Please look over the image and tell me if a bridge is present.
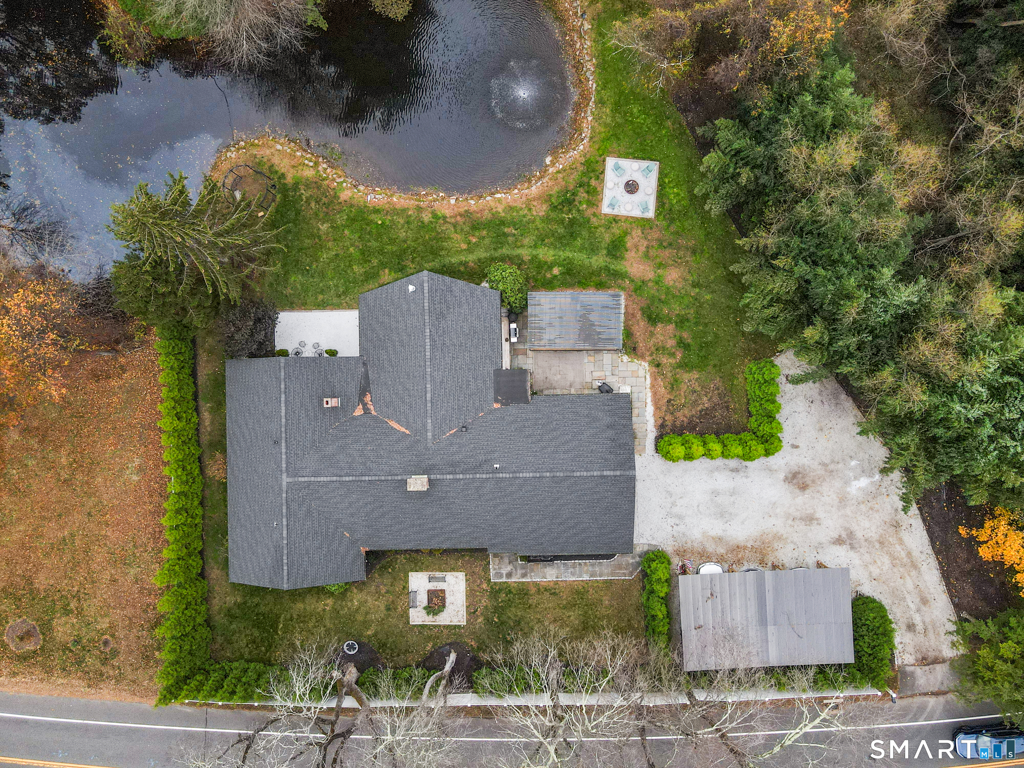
No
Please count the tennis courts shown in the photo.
0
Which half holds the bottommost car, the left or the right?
right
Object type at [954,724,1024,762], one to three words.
car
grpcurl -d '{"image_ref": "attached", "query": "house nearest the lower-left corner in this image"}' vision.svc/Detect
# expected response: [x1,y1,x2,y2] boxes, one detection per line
[225,270,636,590]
